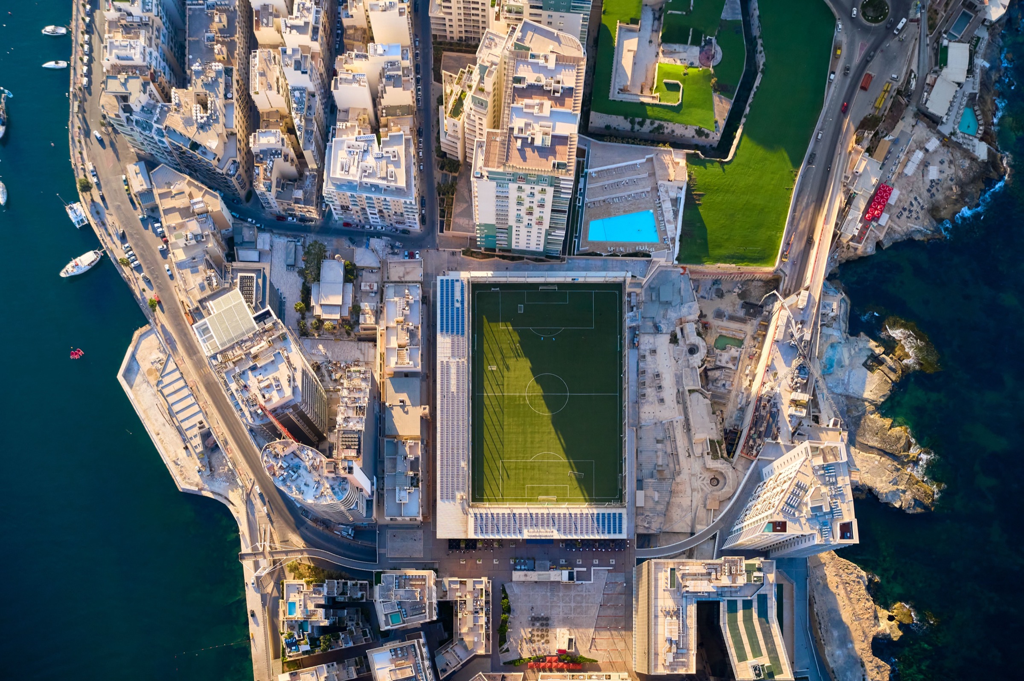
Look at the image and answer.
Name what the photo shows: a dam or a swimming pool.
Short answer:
swimming pool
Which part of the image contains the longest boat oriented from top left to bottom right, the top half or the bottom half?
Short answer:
top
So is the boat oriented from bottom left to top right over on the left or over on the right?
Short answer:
left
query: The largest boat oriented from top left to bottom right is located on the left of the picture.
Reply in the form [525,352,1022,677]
[54,192,90,230]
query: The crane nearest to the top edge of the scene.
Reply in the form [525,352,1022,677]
[767,324,845,424]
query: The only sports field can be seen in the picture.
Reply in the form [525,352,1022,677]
[472,283,623,504]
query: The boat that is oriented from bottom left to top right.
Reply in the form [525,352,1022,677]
[56,242,103,276]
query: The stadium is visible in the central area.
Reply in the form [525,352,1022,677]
[470,282,628,538]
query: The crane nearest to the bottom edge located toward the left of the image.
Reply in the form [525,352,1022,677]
[251,396,354,522]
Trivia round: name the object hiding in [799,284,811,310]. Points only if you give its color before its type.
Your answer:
white vehicle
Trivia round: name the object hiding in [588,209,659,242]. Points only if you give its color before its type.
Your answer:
blue swimming pool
